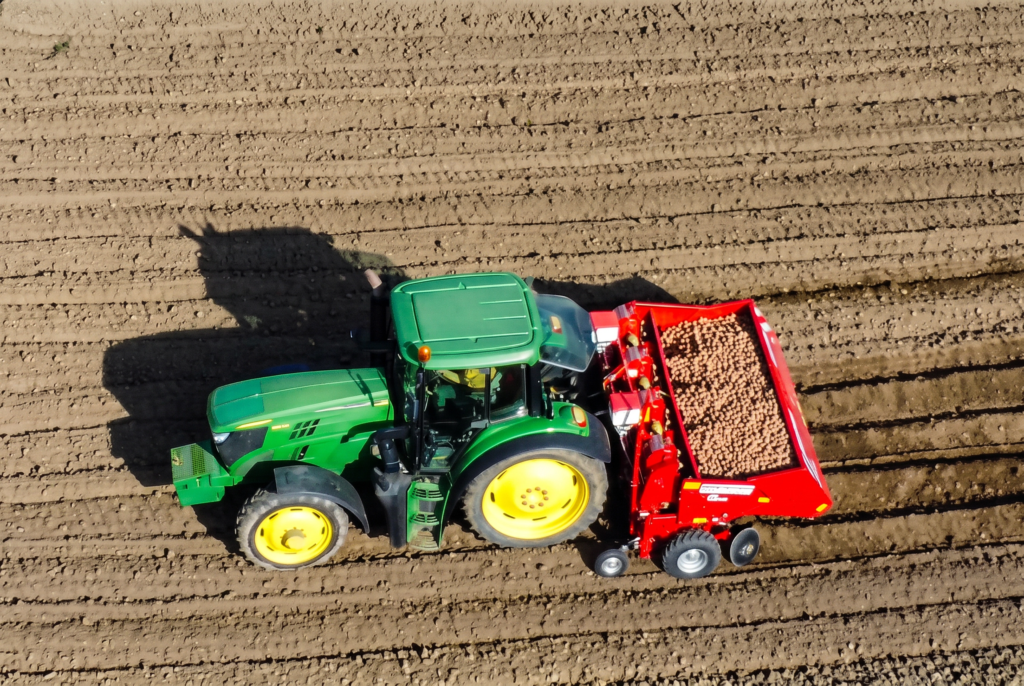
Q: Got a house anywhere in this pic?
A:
No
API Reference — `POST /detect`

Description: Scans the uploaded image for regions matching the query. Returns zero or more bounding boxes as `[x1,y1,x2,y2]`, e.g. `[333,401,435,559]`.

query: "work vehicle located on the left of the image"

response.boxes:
[170,268,627,573]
